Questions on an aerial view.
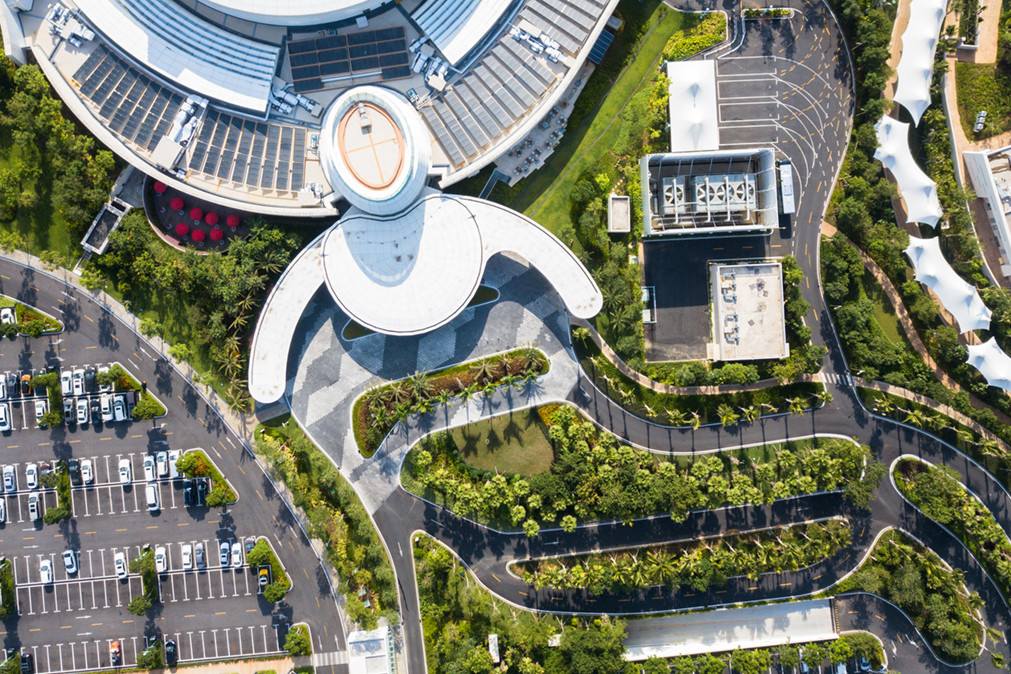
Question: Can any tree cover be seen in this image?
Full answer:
Yes, some tree cover is visible.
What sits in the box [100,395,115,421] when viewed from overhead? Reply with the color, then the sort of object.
white car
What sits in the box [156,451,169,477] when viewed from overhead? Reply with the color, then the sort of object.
white vehicle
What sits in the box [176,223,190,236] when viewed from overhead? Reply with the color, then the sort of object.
red umbrella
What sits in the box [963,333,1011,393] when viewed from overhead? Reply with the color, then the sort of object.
white tent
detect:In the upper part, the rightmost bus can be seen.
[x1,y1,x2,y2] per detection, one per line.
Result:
[774,164,795,216]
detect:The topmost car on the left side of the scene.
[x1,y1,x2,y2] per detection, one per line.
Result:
[2,303,17,327]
